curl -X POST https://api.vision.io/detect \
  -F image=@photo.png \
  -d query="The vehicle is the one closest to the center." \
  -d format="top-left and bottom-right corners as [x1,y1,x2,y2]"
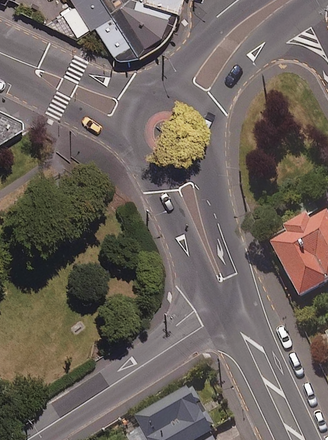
[160,192,174,214]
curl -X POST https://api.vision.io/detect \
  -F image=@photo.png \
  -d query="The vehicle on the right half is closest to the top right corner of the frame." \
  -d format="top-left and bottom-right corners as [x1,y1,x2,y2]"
[224,64,242,88]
